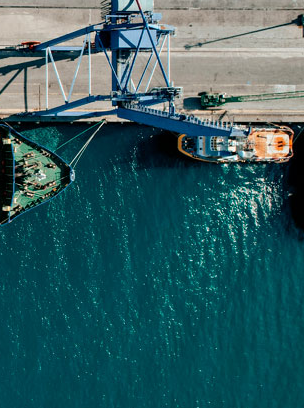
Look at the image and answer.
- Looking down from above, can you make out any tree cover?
No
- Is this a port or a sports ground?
port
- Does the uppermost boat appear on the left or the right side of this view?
right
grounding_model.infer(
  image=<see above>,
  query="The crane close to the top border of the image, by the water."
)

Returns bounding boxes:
[16,0,248,136]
